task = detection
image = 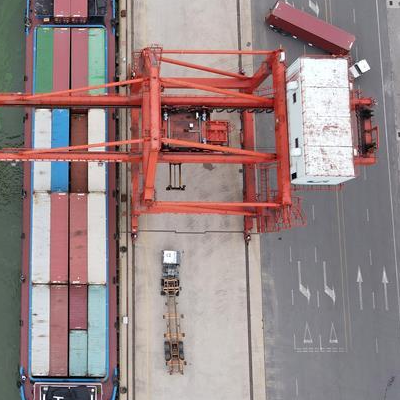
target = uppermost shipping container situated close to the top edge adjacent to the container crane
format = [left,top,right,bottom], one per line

[266,0,356,55]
